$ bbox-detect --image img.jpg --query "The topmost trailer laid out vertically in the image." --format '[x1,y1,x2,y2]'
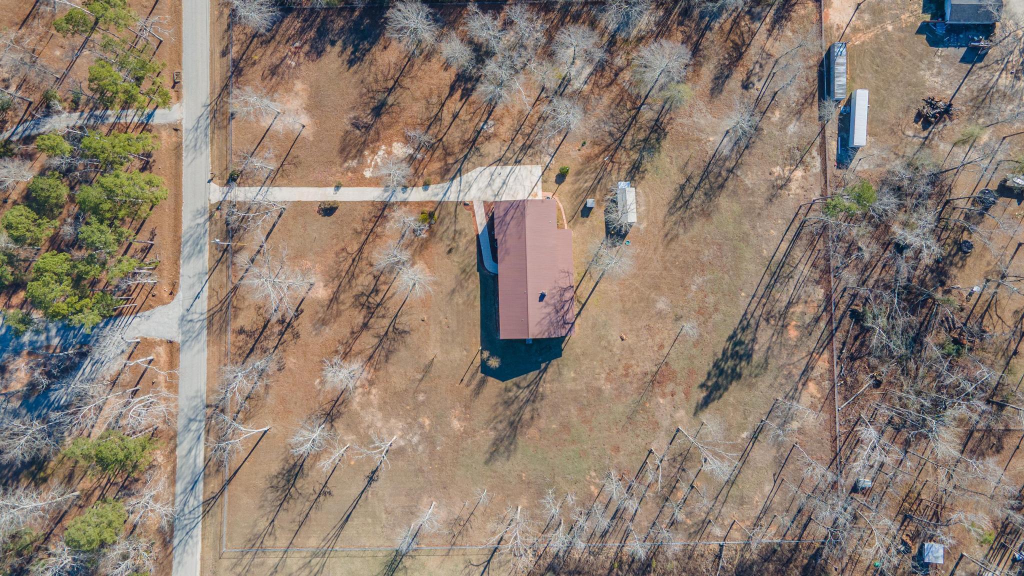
[829,39,850,101]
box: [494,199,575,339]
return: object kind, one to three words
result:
house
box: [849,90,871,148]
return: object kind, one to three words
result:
trailer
